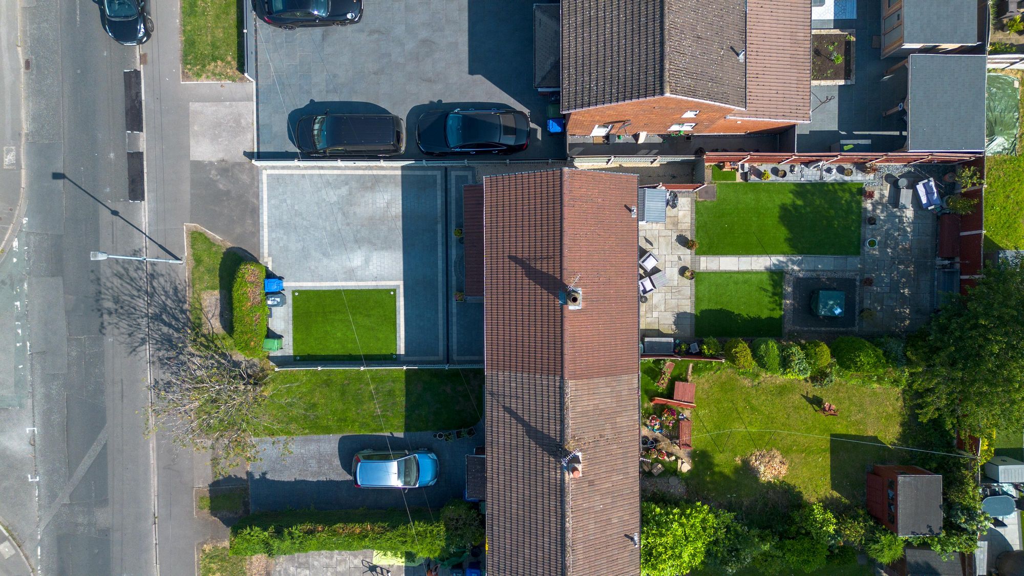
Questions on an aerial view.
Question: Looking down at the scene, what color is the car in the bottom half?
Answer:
blue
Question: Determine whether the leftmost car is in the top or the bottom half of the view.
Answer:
top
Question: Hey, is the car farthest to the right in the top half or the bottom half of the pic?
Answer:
top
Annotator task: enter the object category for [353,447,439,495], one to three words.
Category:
car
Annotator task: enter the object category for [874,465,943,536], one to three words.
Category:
shed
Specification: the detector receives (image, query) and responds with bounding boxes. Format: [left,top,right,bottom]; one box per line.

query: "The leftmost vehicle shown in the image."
[99,0,154,45]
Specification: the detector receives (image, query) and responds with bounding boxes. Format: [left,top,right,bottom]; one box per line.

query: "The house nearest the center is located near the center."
[462,167,641,378]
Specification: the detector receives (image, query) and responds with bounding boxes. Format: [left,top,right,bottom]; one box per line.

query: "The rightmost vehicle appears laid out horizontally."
[418,104,530,156]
